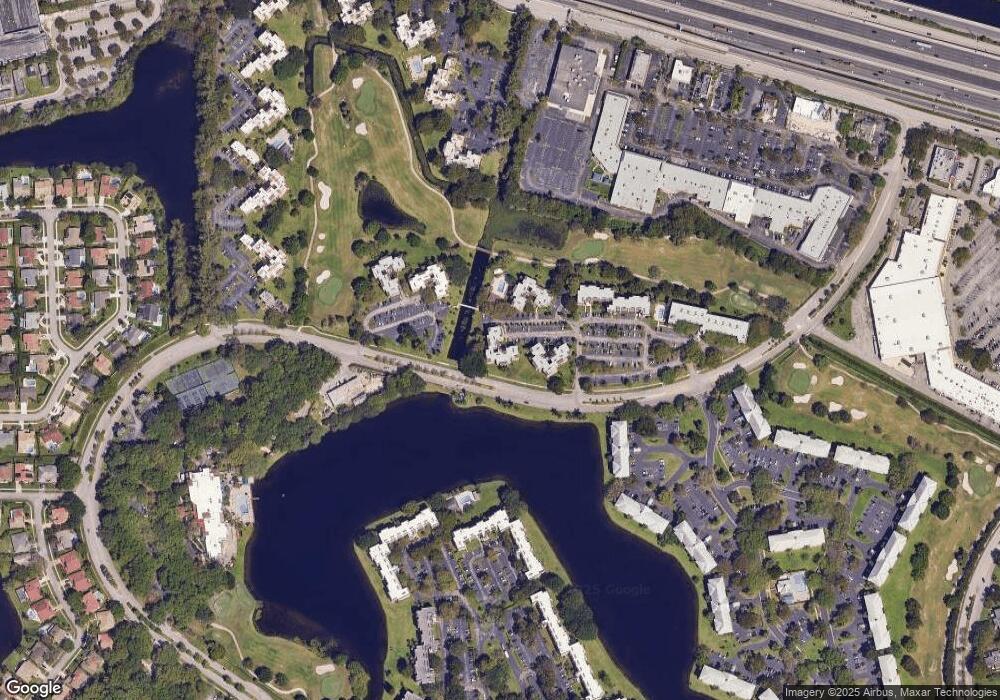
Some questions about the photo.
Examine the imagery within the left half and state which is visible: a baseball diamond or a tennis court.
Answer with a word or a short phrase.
tennis court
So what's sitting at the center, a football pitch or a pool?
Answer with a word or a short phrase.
pool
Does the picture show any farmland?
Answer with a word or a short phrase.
No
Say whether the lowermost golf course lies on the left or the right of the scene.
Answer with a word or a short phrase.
left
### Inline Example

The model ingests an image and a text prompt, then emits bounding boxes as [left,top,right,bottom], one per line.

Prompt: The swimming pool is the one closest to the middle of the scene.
[488,268,508,302]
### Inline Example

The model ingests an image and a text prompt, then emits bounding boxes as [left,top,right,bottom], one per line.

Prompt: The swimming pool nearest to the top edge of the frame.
[407,56,437,80]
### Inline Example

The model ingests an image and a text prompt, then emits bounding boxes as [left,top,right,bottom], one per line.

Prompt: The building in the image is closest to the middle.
[485,325,519,367]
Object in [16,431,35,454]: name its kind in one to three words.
house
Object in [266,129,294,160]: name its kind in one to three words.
swimming pool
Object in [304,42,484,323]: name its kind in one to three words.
golf course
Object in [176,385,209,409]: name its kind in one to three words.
tennis court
